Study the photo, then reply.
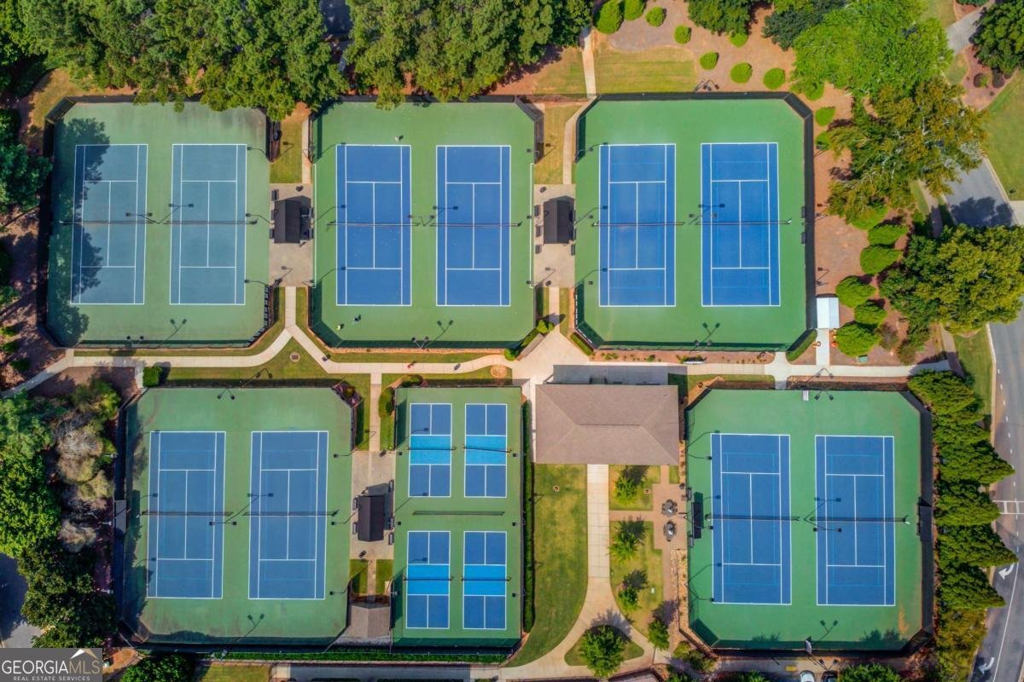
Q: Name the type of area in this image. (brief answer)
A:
sports ground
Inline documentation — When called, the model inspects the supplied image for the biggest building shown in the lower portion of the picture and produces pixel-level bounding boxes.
[535,385,680,465]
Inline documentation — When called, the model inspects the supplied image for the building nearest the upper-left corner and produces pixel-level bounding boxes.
[274,198,302,243]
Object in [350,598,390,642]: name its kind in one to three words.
shed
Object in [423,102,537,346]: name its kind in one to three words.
tennis court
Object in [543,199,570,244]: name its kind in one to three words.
building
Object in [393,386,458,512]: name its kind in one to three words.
sports court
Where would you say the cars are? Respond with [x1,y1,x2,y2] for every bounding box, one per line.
[823,673,839,682]
[801,672,817,682]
